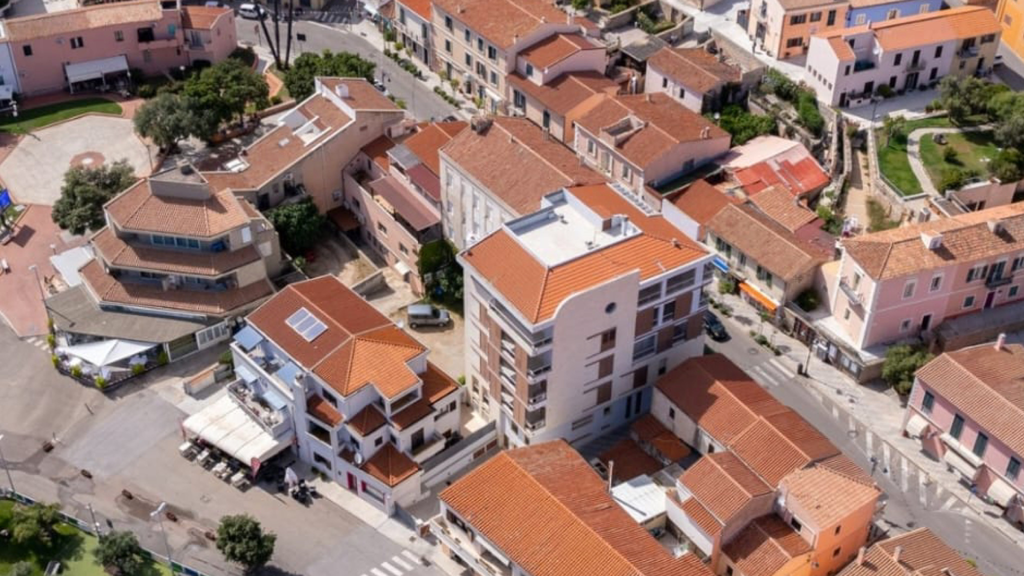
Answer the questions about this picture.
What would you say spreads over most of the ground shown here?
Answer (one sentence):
Most of the picture is covered by buildings.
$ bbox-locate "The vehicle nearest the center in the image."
[405,304,451,331]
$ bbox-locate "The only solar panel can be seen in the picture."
[285,307,329,342]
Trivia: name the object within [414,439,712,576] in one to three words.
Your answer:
house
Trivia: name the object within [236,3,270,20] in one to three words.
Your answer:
car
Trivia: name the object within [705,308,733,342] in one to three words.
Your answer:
car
